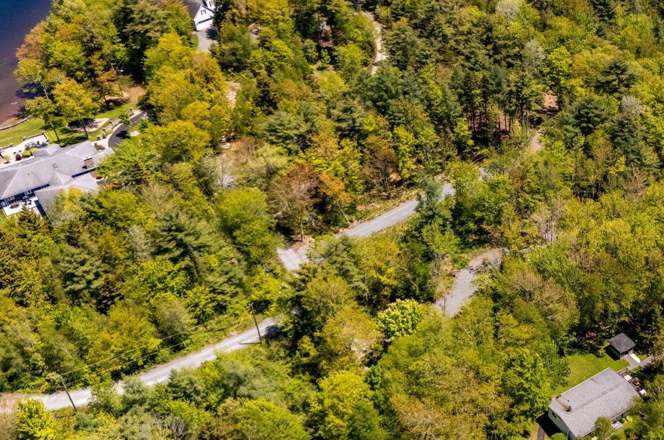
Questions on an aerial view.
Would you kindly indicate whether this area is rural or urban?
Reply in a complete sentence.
It looks rural.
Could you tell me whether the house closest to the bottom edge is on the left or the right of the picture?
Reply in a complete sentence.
The house closest to the bottom edge sits on the right side.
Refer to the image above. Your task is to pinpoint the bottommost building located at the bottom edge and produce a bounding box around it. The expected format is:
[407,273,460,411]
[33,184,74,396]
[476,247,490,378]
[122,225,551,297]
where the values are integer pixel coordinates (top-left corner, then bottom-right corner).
[546,370,642,440]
